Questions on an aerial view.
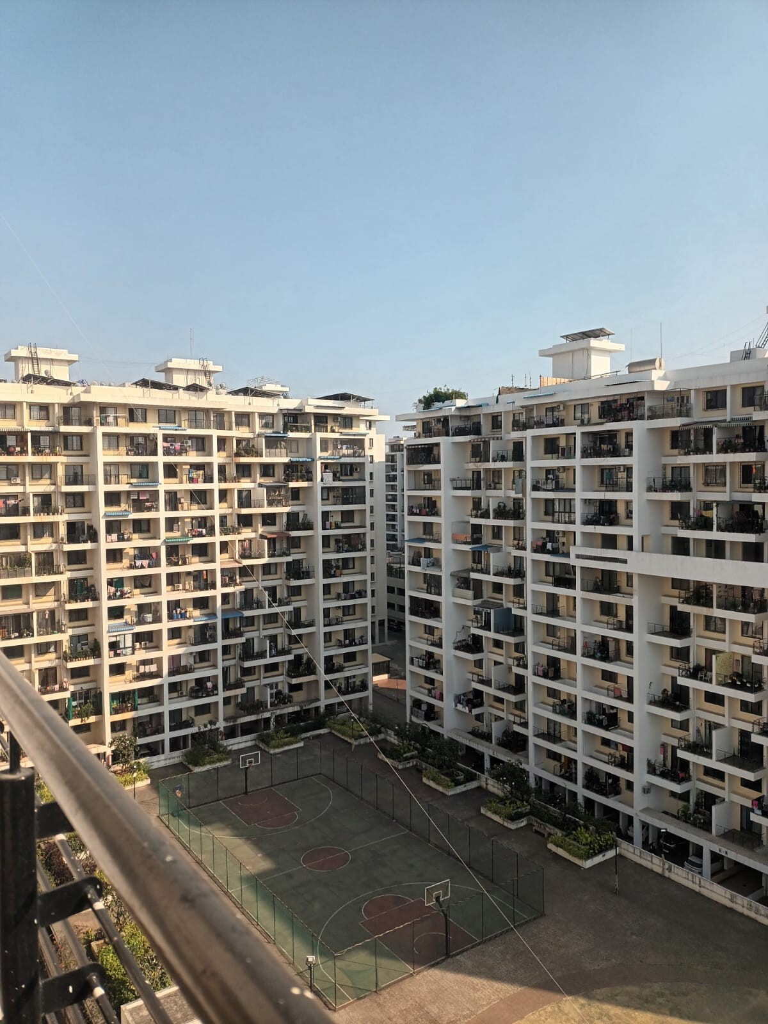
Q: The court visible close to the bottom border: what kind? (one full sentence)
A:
In the photo, the court visible close to the bottom border shows up as a basketball court.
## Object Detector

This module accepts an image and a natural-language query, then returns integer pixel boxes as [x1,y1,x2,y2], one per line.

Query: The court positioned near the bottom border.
[162,775,541,1006]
